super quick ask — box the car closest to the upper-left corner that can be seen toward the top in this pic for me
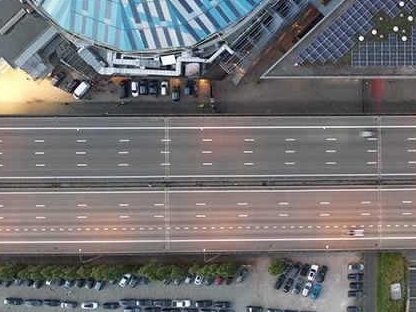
[53,70,66,85]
